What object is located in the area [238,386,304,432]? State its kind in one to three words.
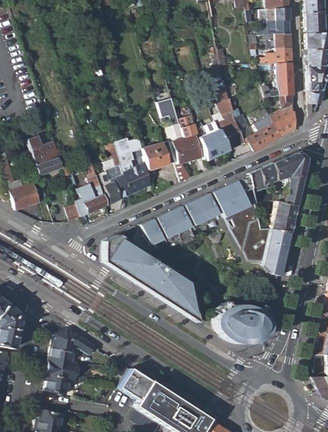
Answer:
roundabout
